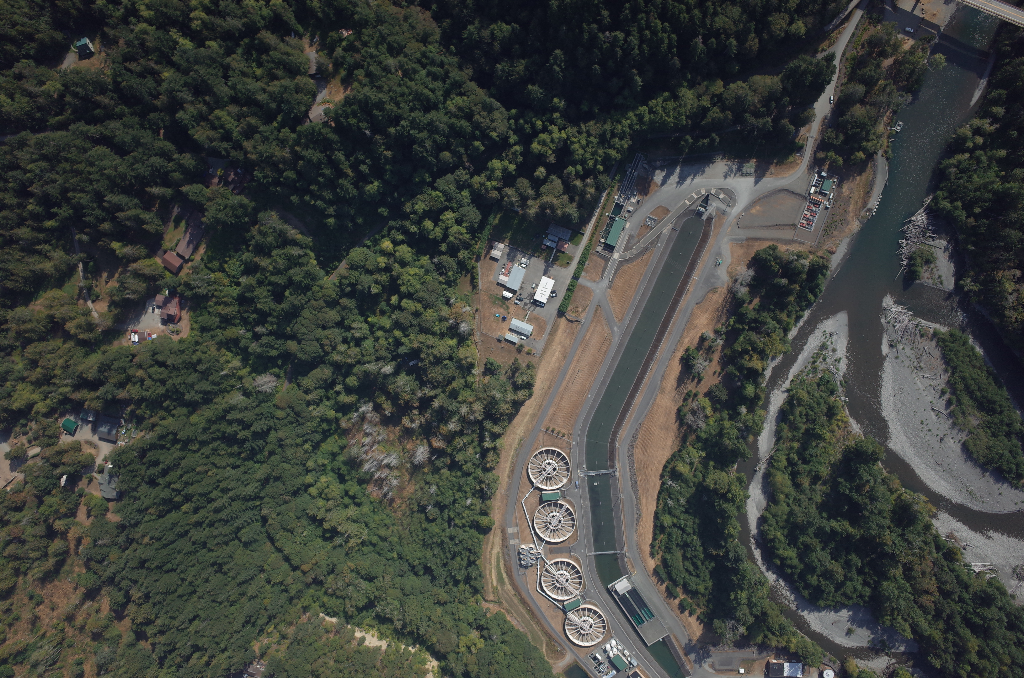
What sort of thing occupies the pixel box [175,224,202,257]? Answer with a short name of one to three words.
house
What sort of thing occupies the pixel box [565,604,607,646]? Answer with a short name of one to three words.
storage tank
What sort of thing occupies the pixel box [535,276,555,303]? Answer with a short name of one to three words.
building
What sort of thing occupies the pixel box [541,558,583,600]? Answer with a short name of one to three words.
storage tank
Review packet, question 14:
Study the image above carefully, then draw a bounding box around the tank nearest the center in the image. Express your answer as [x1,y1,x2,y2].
[528,447,570,489]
